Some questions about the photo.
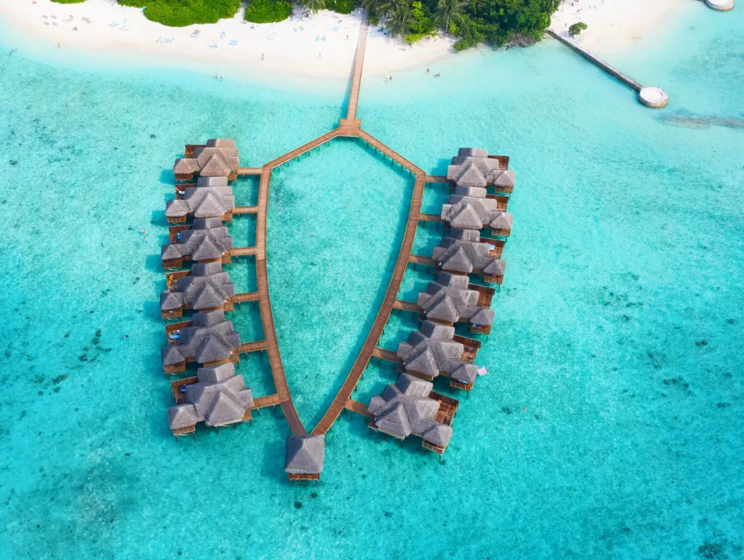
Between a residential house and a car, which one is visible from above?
residential house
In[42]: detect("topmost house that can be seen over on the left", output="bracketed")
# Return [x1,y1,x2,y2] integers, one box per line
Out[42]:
[173,137,243,189]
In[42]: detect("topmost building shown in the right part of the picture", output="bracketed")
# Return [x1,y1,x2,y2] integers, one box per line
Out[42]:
[443,147,514,205]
